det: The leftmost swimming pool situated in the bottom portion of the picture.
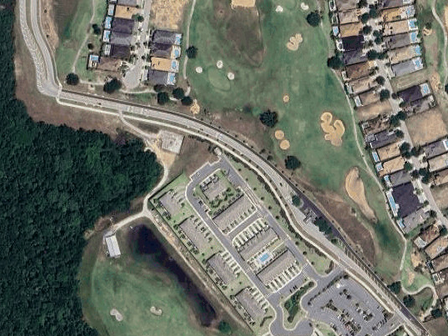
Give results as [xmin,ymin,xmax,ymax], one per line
[253,246,276,269]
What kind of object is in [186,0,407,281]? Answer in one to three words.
golf course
